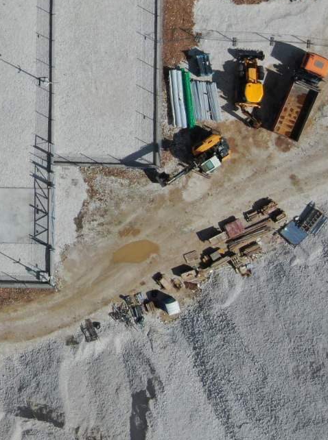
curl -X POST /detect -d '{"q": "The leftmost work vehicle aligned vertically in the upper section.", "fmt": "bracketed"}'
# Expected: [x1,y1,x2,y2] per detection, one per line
[230,47,263,133]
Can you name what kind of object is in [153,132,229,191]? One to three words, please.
work vehicle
